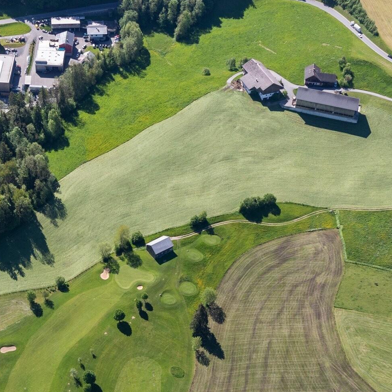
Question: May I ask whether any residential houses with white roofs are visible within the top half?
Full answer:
Yes, a residential house with a white roof shows up within the top half.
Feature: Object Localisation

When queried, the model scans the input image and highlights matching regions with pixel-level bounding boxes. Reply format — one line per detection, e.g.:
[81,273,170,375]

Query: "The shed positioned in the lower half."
[147,236,174,257]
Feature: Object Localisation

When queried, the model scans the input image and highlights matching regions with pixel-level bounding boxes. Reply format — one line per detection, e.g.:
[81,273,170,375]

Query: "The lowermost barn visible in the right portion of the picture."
[283,85,360,123]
